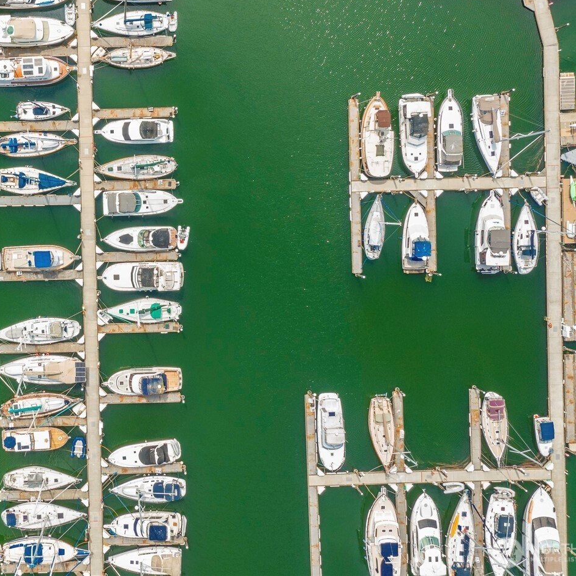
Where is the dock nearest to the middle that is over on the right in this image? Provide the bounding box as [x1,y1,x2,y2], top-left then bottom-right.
[350,192,362,275]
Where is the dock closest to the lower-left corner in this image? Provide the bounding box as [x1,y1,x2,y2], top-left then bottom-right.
[1,561,90,574]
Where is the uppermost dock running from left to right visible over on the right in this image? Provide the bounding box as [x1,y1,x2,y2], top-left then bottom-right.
[351,177,546,192]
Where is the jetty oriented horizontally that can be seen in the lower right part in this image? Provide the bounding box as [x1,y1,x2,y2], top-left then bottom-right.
[308,469,551,487]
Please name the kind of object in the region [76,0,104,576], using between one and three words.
pier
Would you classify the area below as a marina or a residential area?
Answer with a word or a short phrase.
marina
